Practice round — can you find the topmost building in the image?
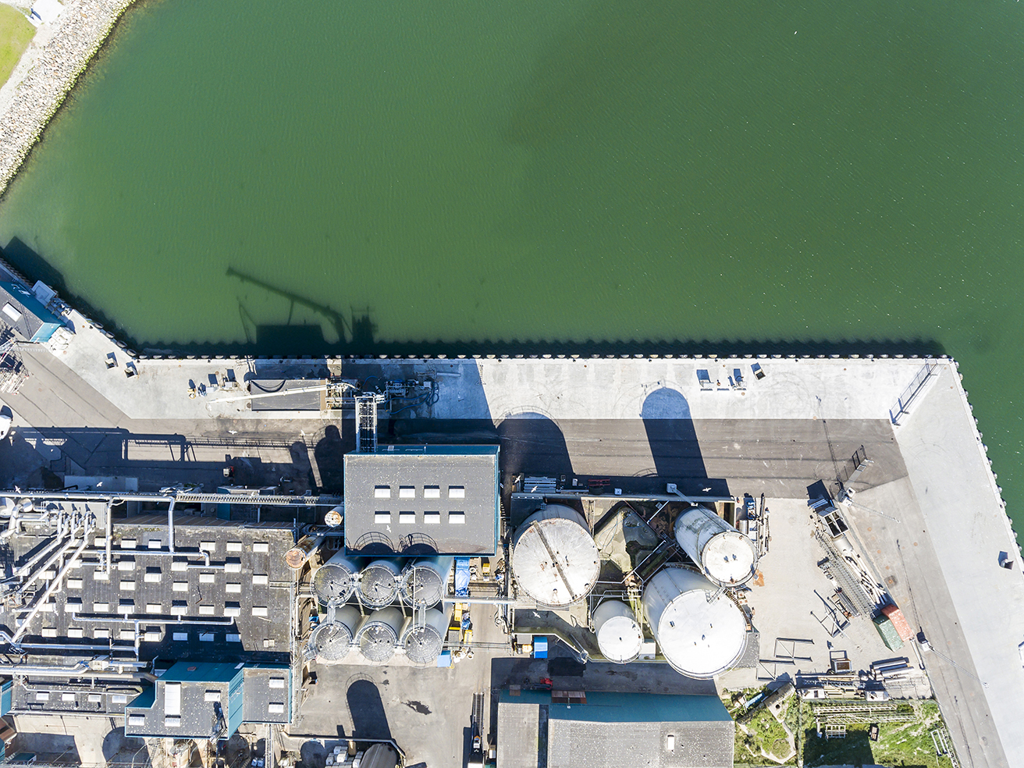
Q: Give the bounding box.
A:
[0,283,66,342]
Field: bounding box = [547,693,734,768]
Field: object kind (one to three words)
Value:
building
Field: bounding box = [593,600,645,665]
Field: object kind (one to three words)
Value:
storage tank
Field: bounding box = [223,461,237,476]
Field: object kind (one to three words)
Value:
work vehicle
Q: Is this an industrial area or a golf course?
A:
industrial area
